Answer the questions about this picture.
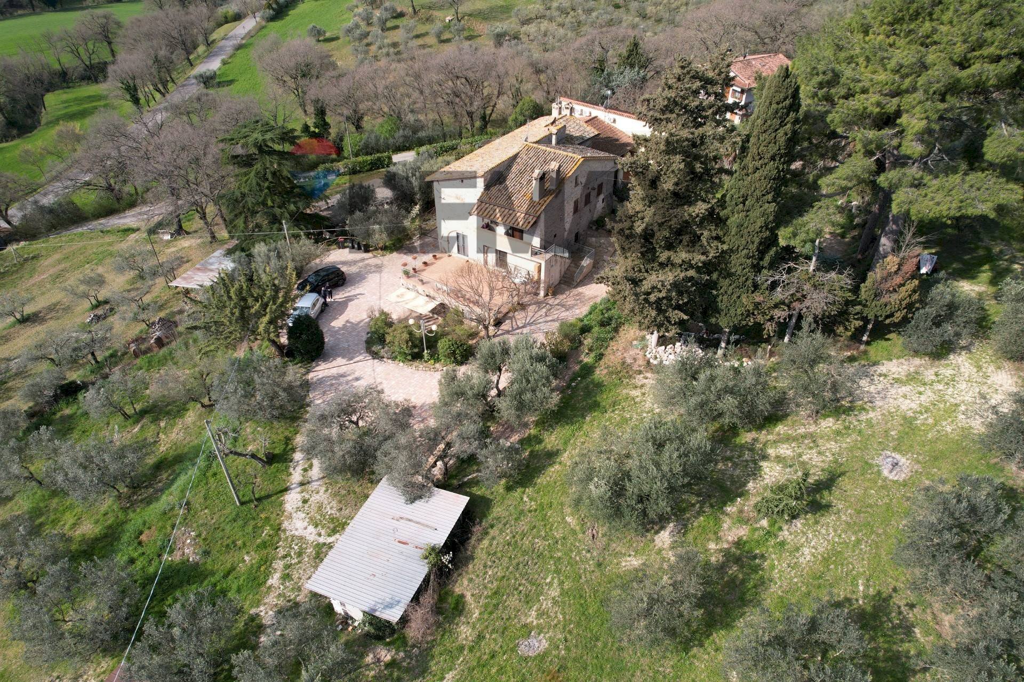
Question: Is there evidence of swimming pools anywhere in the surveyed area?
No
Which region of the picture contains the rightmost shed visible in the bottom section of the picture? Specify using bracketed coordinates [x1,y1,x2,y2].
[307,480,470,623]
